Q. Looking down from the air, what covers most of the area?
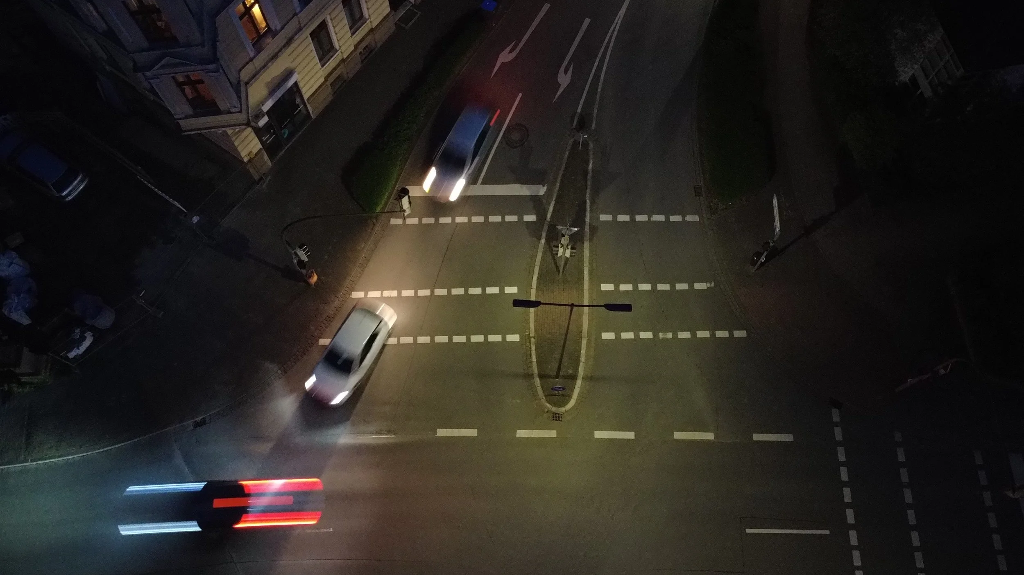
paved ground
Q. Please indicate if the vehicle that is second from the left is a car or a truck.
car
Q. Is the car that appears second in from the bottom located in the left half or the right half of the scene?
left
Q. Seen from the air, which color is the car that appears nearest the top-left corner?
black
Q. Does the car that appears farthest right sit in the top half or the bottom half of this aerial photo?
top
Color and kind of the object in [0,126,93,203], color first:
black car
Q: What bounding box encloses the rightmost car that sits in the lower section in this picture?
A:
[304,296,401,408]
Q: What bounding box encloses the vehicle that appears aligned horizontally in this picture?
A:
[148,473,289,539]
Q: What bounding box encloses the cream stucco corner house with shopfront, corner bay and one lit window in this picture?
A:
[0,0,394,180]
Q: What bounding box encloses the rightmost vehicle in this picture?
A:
[425,109,494,200]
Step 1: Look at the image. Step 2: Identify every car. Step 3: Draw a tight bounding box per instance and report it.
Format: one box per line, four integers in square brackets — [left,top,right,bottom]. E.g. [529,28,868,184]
[0,126,93,203]
[304,296,401,408]
[148,473,289,539]
[425,109,494,200]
